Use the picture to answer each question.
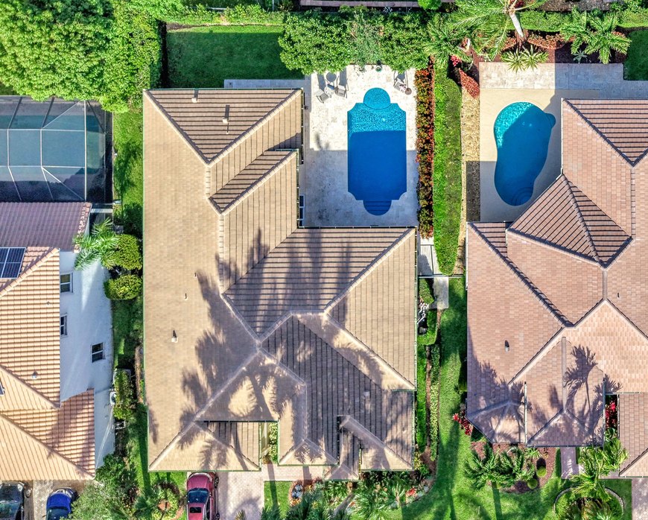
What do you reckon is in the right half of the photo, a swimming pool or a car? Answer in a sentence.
It is a swimming pool that can be seen in the right half of the photo.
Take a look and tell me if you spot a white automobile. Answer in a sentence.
No, the scene contains no white automobile.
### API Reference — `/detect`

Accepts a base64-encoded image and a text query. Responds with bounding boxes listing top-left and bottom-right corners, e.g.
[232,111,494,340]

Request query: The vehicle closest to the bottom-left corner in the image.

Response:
[0,484,35,520]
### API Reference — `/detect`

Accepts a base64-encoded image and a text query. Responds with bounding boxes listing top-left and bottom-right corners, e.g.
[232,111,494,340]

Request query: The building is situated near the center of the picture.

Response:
[141,87,419,482]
